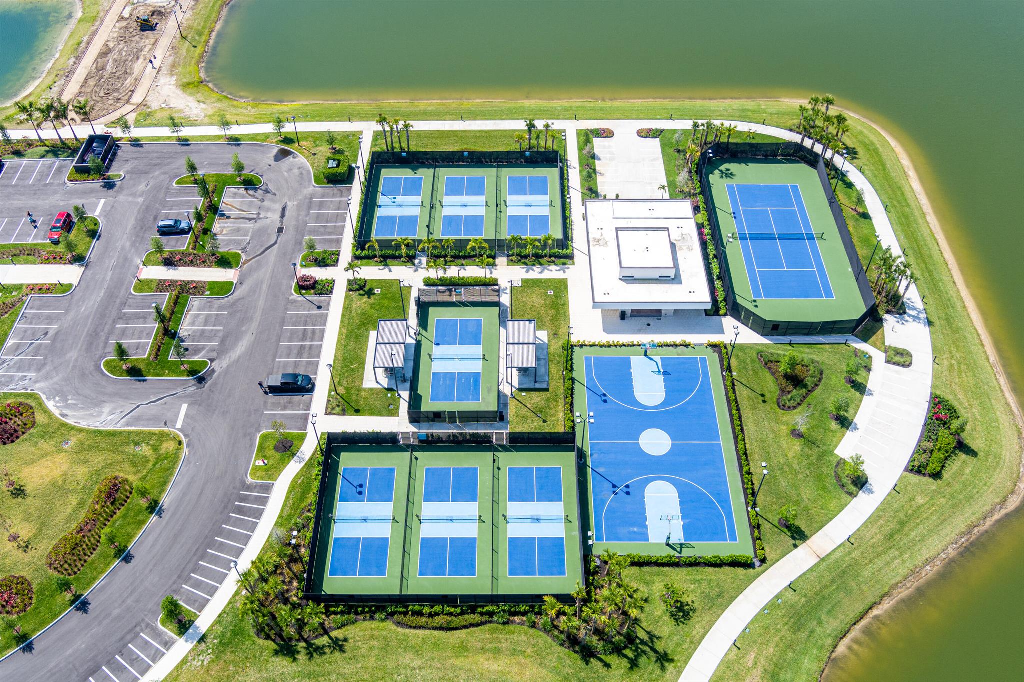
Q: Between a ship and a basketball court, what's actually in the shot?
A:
basketball court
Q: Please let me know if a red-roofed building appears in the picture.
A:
No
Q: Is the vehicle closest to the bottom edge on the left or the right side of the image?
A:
left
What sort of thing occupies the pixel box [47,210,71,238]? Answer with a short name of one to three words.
car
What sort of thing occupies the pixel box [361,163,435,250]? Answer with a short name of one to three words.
sports court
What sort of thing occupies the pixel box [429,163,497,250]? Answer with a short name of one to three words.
sports court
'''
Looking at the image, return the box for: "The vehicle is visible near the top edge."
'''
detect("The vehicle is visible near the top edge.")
[136,18,162,34]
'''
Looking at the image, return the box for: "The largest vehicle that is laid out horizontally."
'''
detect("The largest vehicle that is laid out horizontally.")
[264,374,315,394]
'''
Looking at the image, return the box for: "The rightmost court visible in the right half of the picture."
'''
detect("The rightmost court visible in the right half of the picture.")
[703,157,866,335]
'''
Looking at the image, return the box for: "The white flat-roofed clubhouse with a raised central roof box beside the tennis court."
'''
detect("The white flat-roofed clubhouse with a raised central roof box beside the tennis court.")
[584,199,712,316]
